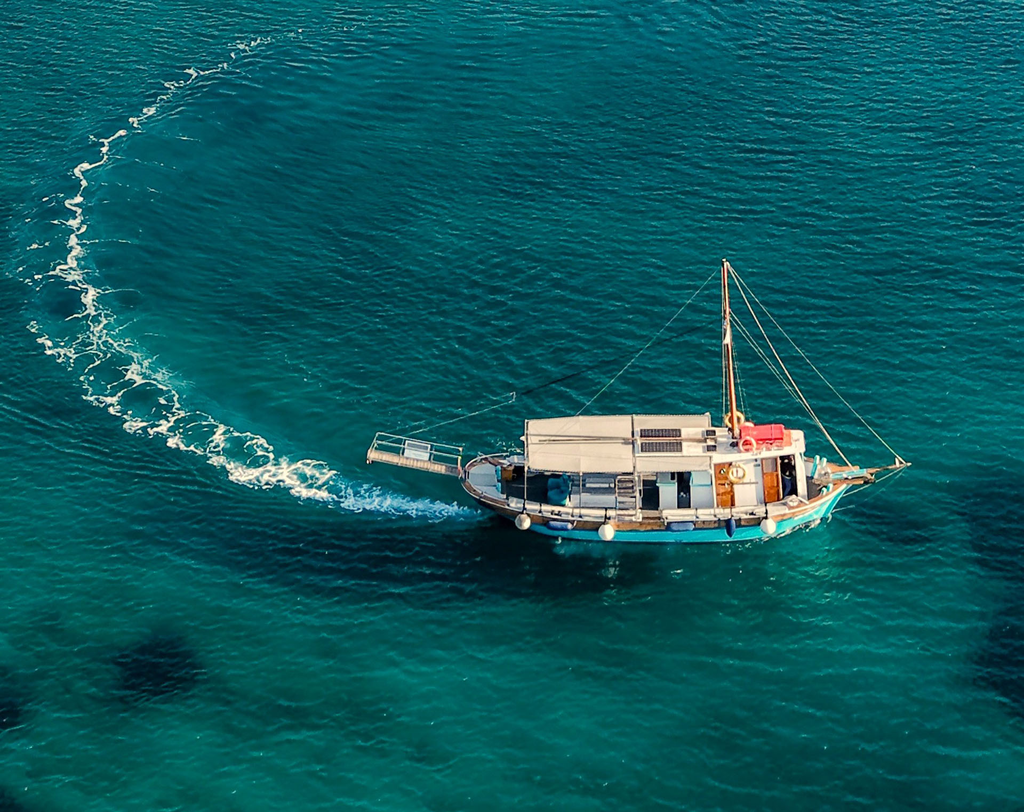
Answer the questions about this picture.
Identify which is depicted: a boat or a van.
boat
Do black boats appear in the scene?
No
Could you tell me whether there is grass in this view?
No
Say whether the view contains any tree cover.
No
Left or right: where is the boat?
right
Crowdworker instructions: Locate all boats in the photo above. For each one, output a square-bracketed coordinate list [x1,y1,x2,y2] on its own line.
[460,259,911,543]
